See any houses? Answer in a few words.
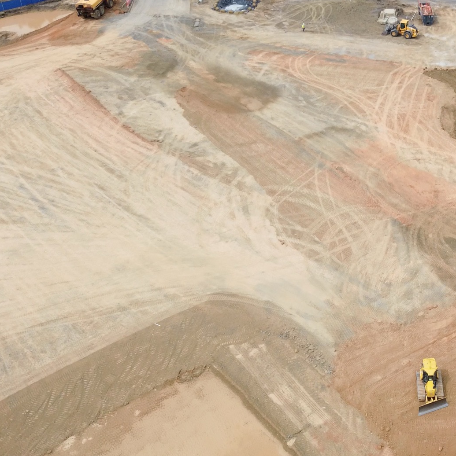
No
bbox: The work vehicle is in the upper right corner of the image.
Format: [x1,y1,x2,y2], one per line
[386,19,419,38]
